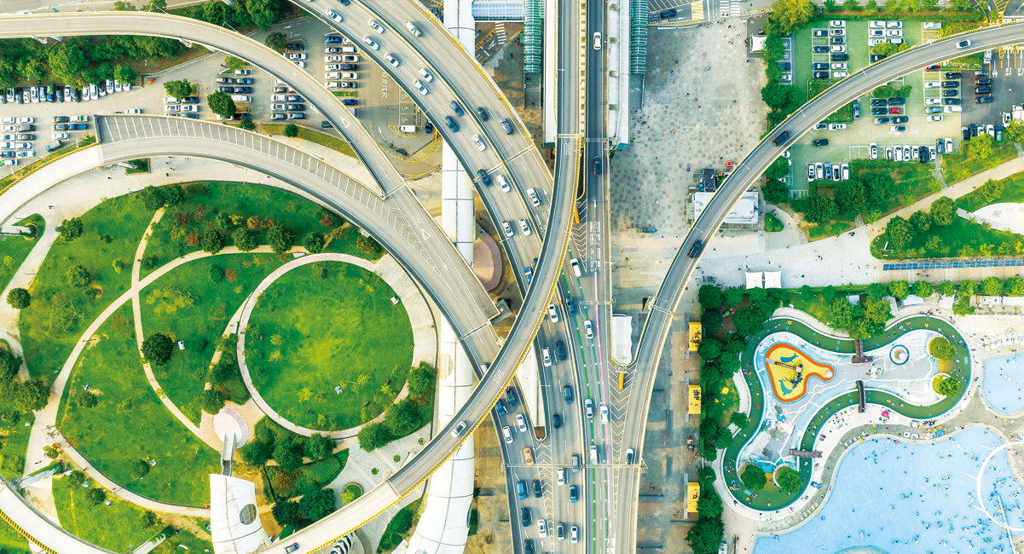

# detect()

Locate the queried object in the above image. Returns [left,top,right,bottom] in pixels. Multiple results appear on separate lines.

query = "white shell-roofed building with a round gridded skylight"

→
[210,471,272,554]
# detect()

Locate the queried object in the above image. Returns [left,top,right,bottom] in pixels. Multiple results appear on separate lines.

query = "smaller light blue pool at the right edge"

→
[978,349,1024,418]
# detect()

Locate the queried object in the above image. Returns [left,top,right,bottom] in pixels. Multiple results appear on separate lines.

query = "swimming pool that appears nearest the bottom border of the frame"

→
[750,423,1024,554]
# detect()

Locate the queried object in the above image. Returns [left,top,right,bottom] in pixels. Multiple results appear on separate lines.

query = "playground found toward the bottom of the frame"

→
[741,332,941,476]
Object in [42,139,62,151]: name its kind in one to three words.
vehicle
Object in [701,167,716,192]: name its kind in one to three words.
building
